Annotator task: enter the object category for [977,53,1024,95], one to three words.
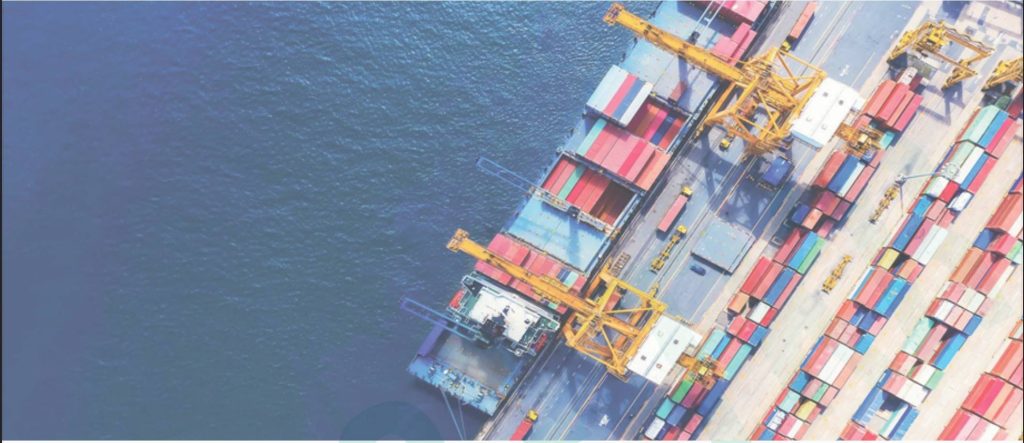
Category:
container crane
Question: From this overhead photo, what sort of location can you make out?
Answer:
port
